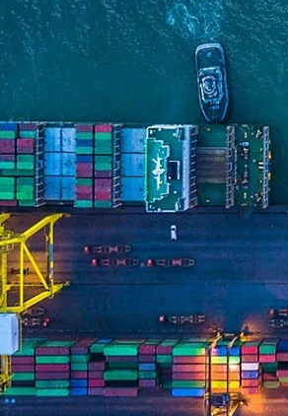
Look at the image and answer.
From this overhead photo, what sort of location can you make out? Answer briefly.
port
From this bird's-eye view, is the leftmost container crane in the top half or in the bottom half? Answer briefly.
bottom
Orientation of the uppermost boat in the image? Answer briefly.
vertically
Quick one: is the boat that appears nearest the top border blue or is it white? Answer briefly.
blue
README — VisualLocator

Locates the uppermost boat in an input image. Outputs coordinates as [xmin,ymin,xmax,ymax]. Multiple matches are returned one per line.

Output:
[195,43,229,122]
